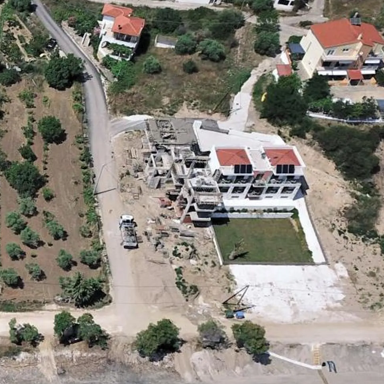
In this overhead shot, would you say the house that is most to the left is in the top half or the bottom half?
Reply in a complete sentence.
Seen from above, the house that is most to the left lies in the top half of the view.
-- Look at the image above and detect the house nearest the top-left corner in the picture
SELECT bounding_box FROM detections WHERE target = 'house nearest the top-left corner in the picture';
[100,6,144,68]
